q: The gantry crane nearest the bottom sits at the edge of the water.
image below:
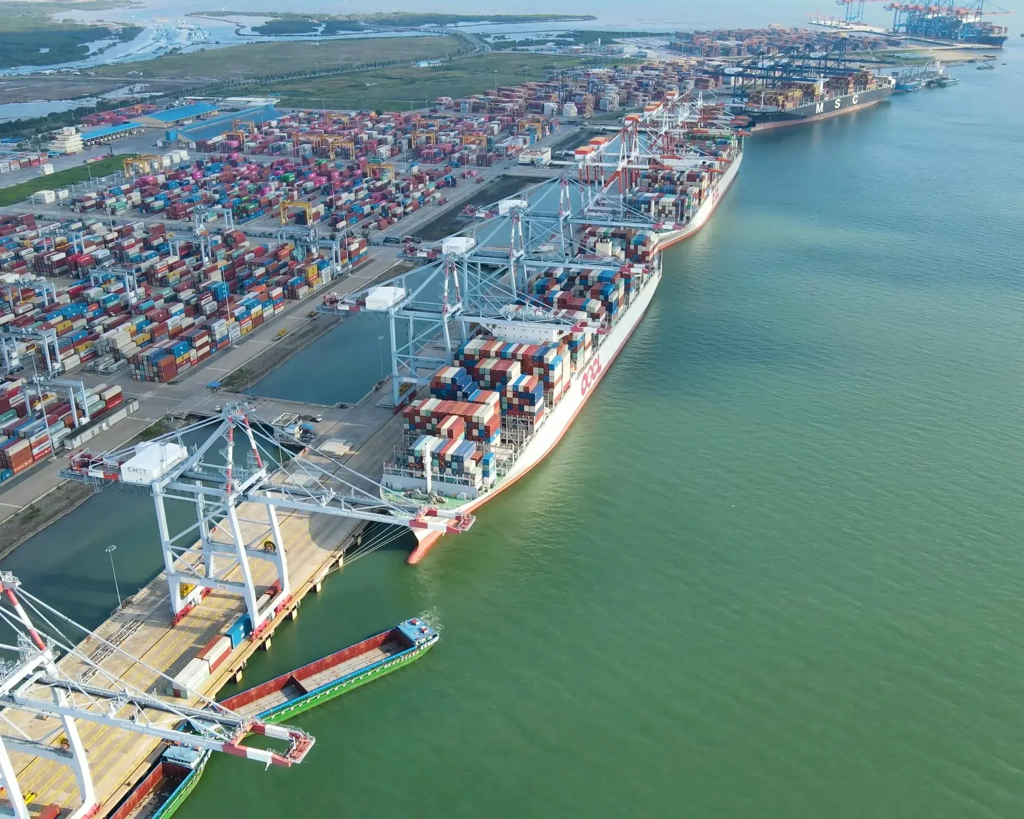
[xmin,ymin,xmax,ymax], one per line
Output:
[0,580,317,819]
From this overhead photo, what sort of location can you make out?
port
